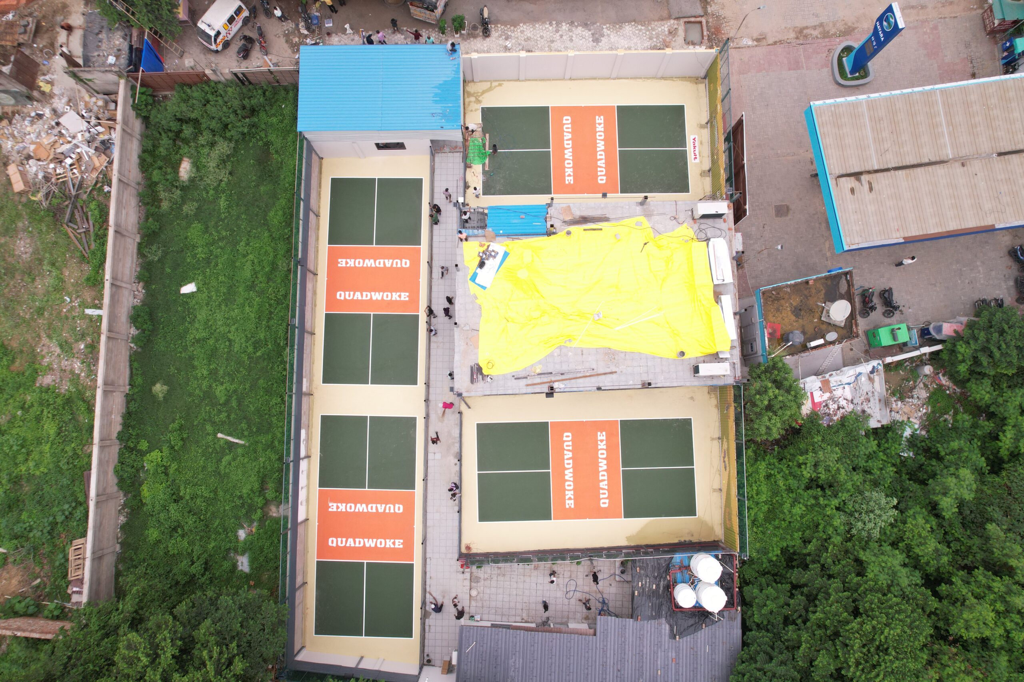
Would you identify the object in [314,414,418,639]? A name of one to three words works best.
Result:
sports court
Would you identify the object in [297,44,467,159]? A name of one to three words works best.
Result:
building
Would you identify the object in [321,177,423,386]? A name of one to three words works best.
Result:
sports court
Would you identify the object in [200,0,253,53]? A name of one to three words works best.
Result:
van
